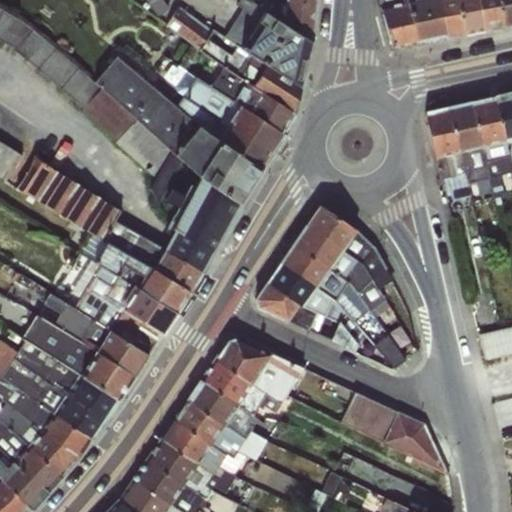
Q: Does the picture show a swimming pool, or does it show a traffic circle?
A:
traffic circle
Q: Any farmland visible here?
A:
No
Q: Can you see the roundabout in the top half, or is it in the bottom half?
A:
top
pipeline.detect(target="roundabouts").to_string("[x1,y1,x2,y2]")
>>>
[300,88,414,202]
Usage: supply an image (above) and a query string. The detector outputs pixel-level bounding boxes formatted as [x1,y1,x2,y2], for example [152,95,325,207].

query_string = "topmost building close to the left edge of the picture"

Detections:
[0,7,32,47]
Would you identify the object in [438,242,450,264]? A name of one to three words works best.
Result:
vehicle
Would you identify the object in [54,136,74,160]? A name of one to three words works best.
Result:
vehicle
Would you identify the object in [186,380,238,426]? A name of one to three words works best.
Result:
house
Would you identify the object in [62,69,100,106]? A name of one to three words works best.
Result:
building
